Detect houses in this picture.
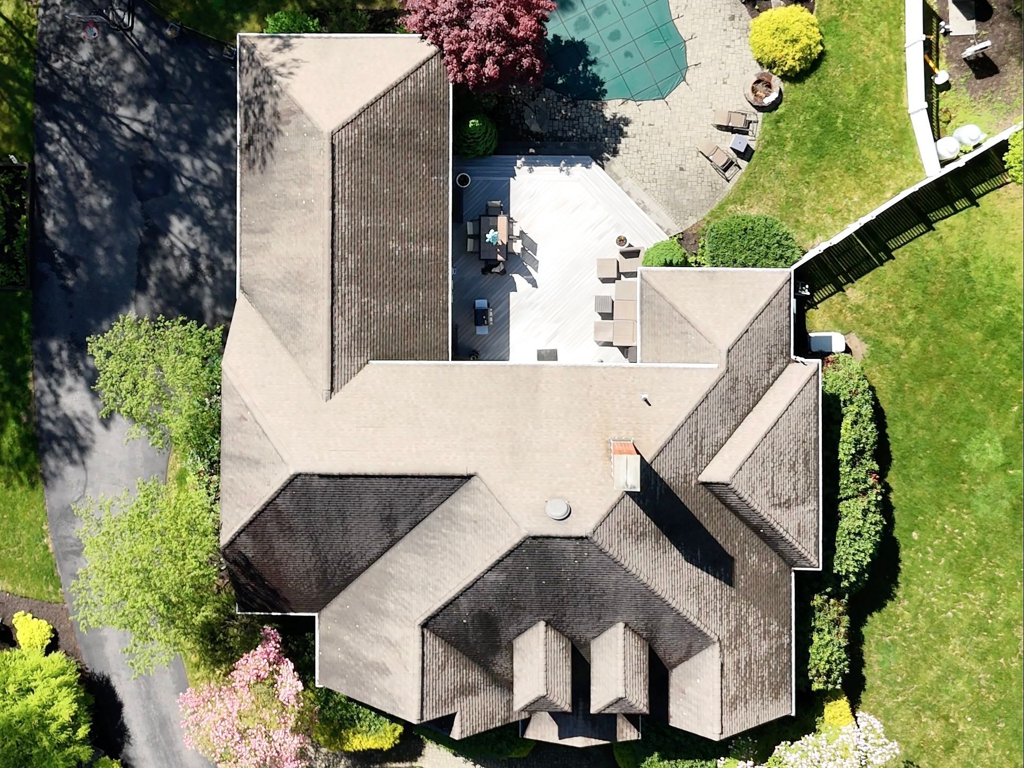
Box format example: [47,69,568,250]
[219,30,824,747]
